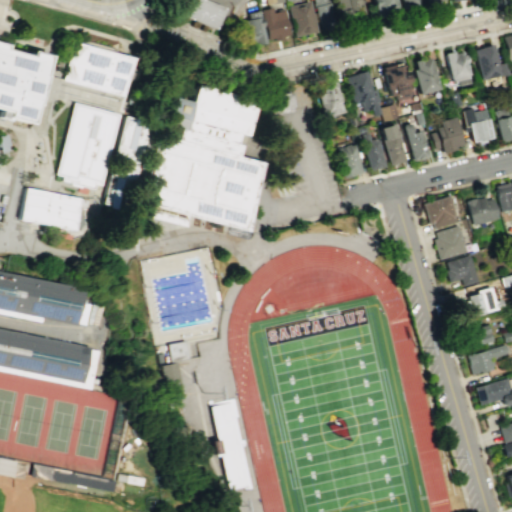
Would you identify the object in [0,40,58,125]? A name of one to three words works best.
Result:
building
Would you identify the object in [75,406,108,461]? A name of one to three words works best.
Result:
tennis court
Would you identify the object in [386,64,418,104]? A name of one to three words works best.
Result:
house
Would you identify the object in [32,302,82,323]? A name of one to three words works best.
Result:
solar array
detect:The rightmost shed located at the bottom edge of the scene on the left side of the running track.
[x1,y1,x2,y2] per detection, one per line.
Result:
[52,472,115,492]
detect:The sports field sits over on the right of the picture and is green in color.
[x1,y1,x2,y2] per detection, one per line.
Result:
[250,294,430,512]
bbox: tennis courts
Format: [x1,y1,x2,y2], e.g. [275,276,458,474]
[15,394,48,448]
[75,406,108,461]
[0,388,18,442]
[45,400,78,454]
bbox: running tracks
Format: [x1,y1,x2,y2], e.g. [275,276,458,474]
[227,245,453,512]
